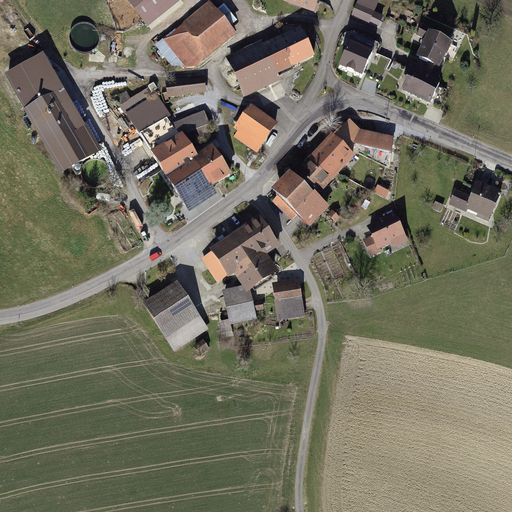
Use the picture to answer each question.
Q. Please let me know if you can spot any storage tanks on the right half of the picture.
No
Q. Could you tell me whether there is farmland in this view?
Yes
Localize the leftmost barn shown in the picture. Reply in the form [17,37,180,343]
[6,51,100,174]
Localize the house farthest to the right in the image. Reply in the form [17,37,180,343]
[449,179,501,222]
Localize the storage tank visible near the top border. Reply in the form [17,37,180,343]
[70,22,100,53]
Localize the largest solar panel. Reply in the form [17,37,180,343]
[176,171,216,210]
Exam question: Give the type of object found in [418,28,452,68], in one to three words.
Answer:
house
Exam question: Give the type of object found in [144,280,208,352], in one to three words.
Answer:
barn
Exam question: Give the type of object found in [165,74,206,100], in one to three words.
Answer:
shed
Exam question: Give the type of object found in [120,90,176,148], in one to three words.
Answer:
building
